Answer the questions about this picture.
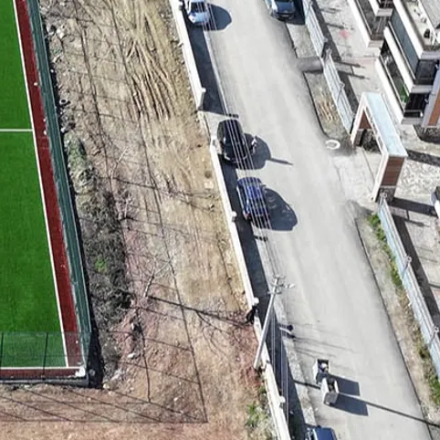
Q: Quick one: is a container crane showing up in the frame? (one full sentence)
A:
No, the scene contains no container crane.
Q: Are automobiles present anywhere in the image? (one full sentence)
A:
Yes, an automobile is visible in the scene.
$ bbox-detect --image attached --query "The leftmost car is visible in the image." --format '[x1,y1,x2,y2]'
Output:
[181,0,210,23]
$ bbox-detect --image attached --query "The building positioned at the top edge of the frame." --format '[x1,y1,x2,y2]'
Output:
[342,0,440,135]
